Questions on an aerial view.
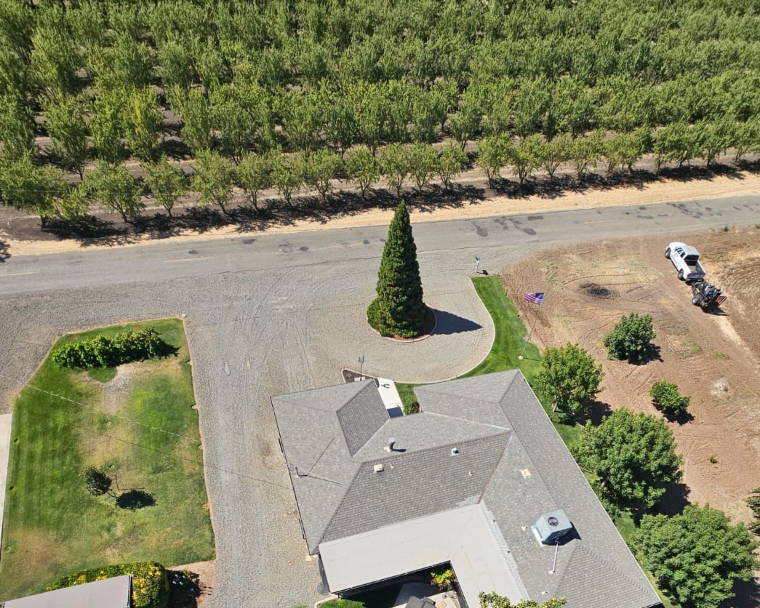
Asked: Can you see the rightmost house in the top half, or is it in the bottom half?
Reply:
bottom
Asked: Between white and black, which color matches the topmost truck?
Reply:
white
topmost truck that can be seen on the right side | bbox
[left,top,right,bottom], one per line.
[664,240,708,281]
